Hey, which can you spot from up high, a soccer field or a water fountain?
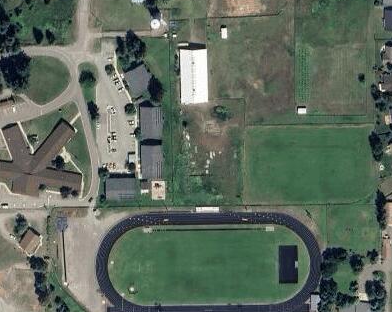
soccer field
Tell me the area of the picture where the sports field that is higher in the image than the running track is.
right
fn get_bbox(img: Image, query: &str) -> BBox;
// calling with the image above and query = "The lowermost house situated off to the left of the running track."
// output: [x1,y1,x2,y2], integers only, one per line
[17,228,44,254]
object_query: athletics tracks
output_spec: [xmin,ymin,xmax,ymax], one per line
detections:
[95,212,322,312]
